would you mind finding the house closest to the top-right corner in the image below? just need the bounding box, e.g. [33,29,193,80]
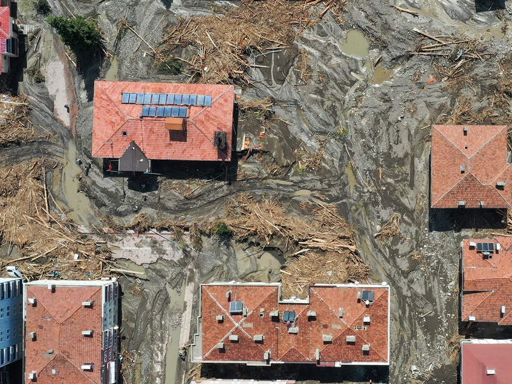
[430,125,512,208]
